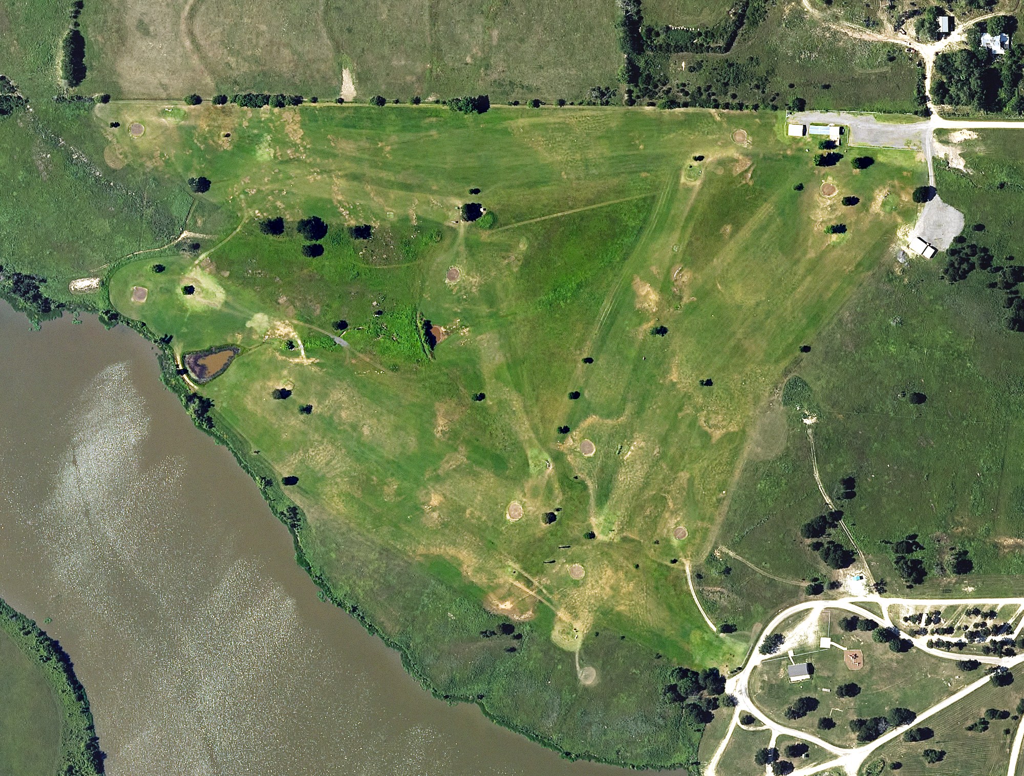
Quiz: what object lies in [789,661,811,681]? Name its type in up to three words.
building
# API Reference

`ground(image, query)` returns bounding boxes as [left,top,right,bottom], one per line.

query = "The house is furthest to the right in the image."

[981,33,1011,56]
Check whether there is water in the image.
Yes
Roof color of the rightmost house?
white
